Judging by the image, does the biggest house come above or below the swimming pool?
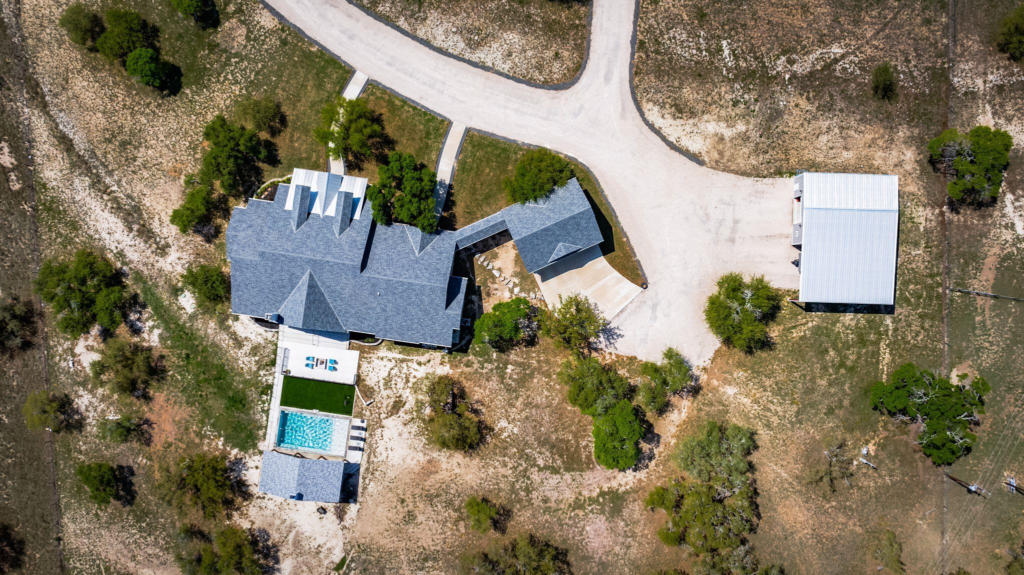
above it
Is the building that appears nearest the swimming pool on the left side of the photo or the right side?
left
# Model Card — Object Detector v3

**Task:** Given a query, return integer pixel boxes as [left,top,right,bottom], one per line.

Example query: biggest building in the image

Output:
[226,168,468,348]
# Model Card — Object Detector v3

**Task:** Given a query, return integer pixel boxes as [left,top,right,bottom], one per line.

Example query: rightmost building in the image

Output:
[787,172,899,305]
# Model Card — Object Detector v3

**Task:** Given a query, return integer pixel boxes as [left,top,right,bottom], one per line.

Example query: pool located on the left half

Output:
[273,406,352,458]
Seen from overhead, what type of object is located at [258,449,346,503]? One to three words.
building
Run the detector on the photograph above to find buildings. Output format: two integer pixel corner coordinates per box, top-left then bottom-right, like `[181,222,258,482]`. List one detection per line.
[787,172,899,305]
[501,179,604,274]
[258,449,346,503]
[226,168,468,348]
